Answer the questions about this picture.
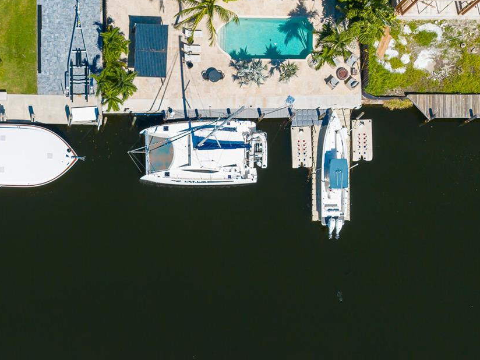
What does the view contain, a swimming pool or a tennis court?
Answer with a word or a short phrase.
swimming pool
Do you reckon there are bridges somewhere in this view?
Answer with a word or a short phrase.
No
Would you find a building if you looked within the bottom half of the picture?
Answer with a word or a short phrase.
No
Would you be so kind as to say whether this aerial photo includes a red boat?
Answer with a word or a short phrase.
No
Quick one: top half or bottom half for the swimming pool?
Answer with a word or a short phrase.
top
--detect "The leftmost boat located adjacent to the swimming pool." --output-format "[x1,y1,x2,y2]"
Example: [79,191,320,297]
[128,105,257,185]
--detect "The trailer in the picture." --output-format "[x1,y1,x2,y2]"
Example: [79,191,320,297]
[63,0,93,101]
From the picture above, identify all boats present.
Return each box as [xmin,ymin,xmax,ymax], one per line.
[315,112,358,242]
[252,130,268,169]
[0,122,85,186]
[128,105,257,185]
